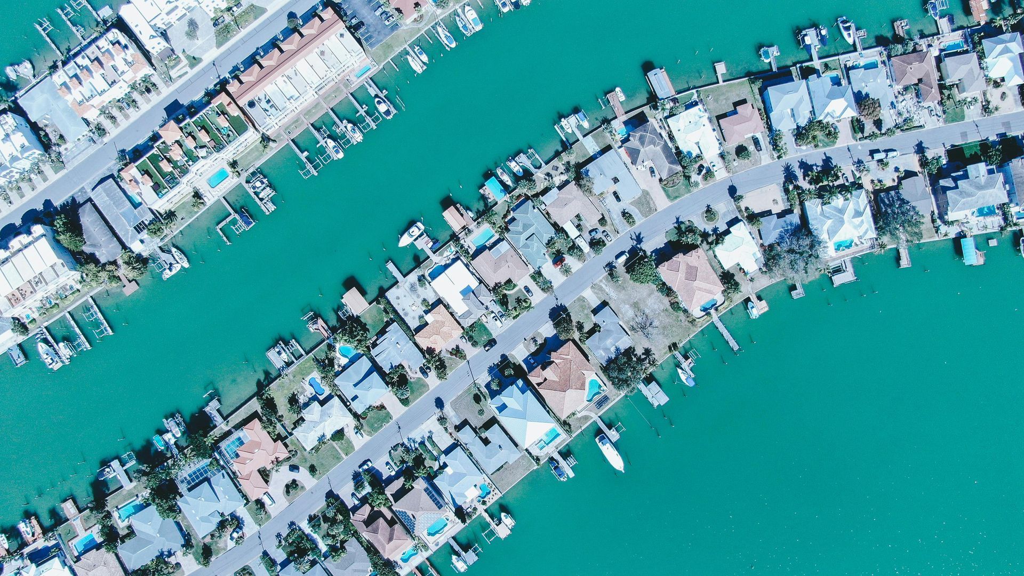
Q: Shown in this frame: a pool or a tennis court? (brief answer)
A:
pool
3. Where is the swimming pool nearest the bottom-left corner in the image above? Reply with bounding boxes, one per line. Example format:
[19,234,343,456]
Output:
[27,544,60,563]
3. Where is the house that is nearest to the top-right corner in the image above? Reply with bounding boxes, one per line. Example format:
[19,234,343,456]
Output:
[980,32,1024,87]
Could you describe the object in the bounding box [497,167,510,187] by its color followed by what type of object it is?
white boat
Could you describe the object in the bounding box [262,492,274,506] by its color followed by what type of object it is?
white vehicle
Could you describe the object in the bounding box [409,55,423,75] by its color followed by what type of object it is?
white boat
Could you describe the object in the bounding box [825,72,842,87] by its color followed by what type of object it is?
blue swimming pool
